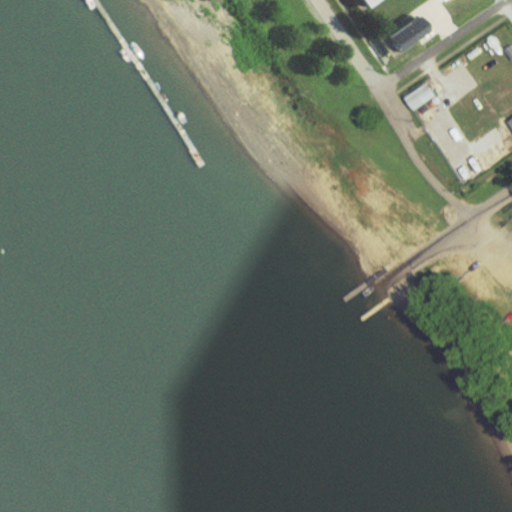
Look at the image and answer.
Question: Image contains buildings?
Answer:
Yes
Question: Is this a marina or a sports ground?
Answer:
marina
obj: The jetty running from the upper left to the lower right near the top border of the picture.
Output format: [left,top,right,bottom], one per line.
[94,0,204,164]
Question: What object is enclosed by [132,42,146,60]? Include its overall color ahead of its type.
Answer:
white boat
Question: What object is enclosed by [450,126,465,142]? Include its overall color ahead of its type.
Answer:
white vehicle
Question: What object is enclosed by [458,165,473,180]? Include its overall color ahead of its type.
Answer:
white vehicle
